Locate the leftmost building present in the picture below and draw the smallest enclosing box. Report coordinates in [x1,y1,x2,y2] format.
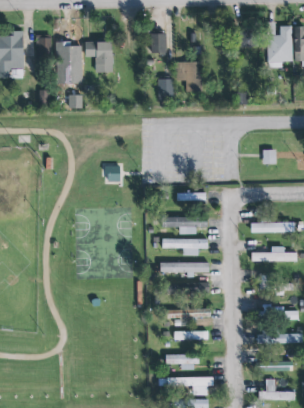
[0,30,24,79]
